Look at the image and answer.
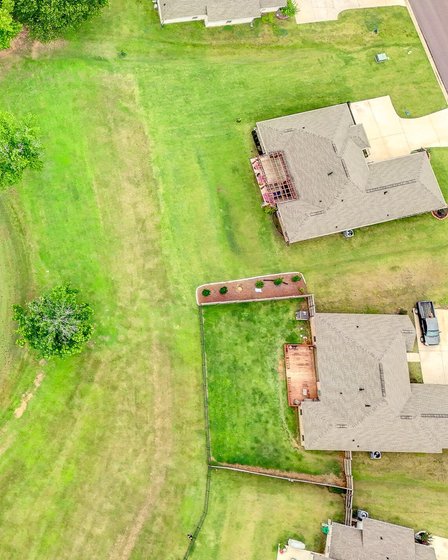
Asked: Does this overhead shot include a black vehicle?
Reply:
No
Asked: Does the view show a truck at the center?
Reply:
No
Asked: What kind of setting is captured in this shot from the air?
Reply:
residential area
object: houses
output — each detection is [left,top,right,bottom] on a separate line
[310,515,437,560]
[157,0,286,28]
[298,312,448,453]
[254,103,448,246]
